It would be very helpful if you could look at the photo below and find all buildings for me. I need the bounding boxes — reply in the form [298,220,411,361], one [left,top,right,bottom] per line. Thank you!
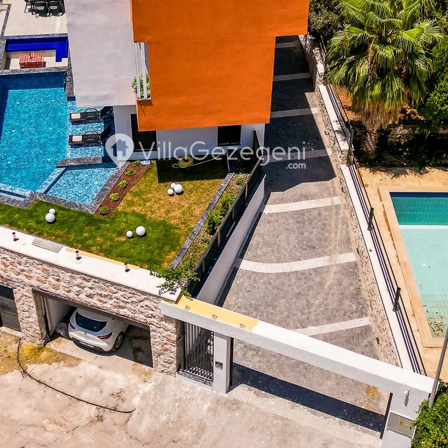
[63,0,309,165]
[30,232,198,375]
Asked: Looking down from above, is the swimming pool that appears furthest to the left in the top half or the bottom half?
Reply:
top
